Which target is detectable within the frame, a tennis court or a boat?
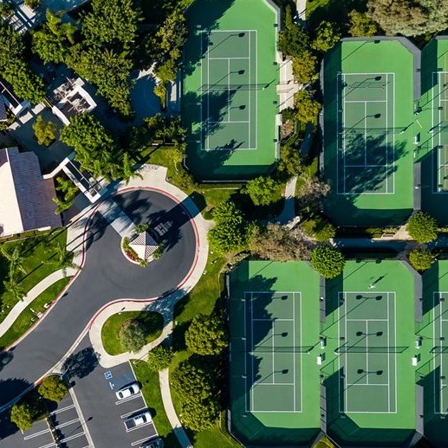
tennis court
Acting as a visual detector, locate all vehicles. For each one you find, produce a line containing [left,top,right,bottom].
[139,438,164,448]
[116,383,140,399]
[124,412,152,429]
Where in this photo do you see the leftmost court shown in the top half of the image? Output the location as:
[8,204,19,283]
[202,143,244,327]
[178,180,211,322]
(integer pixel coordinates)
[186,0,280,180]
